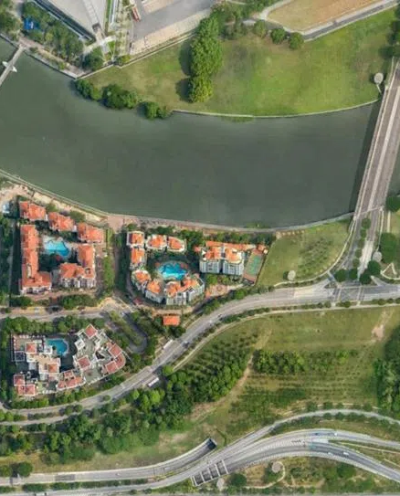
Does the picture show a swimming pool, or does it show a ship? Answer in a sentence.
I can see a swimming pool in this picture.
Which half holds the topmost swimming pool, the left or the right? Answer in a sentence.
You can find the topmost swimming pool on the left side of the picture.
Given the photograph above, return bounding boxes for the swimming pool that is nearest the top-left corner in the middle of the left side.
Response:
[42,237,70,258]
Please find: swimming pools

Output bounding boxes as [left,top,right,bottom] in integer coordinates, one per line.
[158,261,189,282]
[46,337,68,356]
[42,237,70,258]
